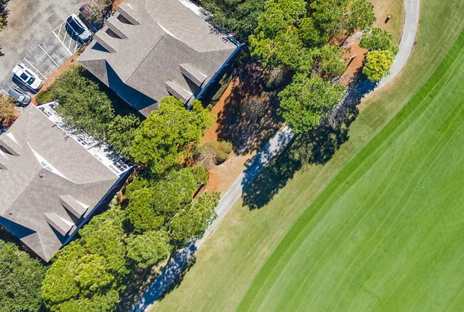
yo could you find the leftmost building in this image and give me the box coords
[0,96,136,263]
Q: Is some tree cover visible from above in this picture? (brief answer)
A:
Yes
